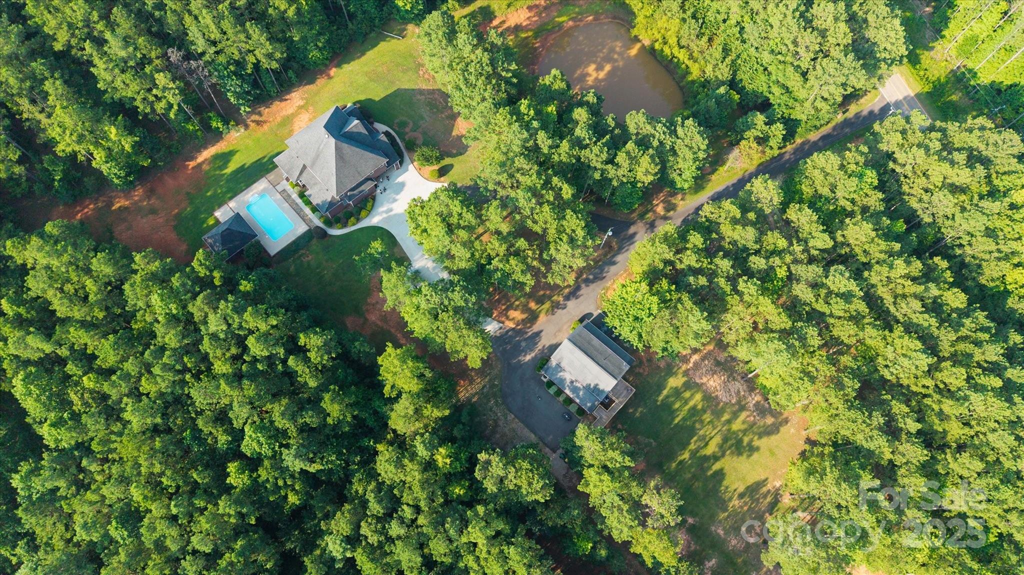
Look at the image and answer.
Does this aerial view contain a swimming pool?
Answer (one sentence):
Yes, you can see a swimming pool in this photo.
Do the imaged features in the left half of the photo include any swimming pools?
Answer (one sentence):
Yes, the scene does show a swimming pool in the left half of the photo.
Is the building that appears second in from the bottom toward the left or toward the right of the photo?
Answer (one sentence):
The building that appears second in from the bottom sits on the left side.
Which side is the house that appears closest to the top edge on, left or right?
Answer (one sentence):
You can find the house that appears closest to the top edge on the left side of the picture.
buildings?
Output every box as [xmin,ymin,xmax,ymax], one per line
[540,319,636,414]
[272,104,403,219]
[203,212,259,263]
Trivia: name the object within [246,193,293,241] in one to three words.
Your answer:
swimming pool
